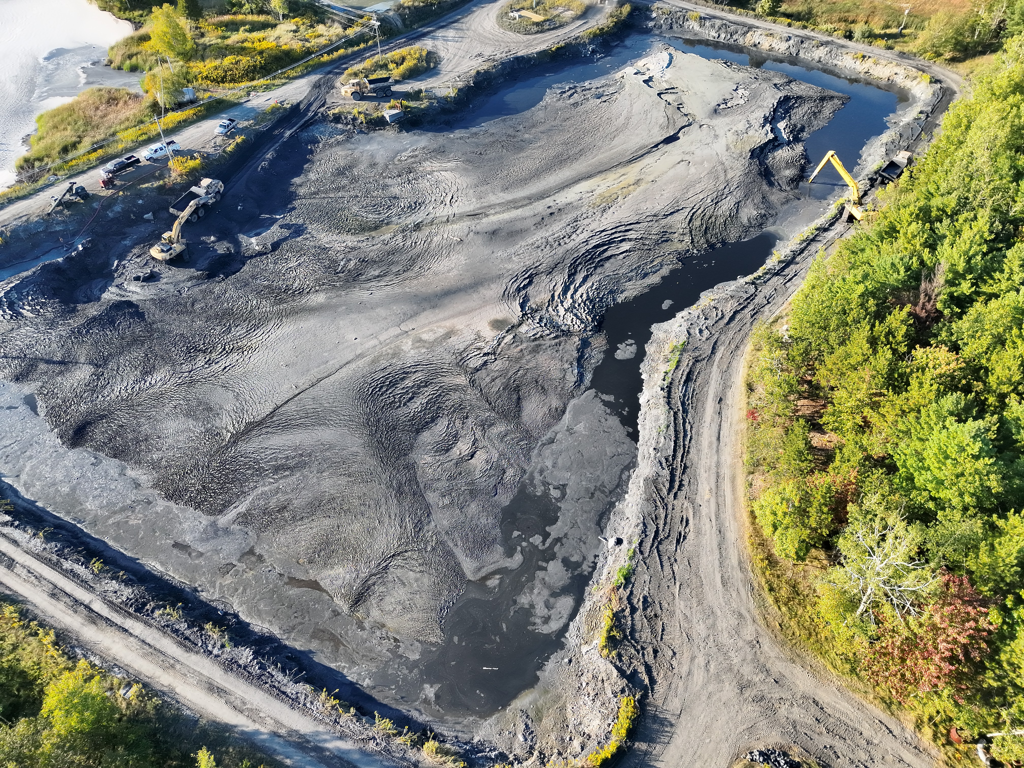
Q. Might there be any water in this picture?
Yes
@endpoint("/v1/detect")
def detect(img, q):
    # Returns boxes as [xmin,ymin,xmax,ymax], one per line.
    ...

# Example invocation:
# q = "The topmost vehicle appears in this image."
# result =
[342,74,398,102]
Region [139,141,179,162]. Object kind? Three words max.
truck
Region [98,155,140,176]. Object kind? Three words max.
truck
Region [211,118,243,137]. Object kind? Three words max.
vehicle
